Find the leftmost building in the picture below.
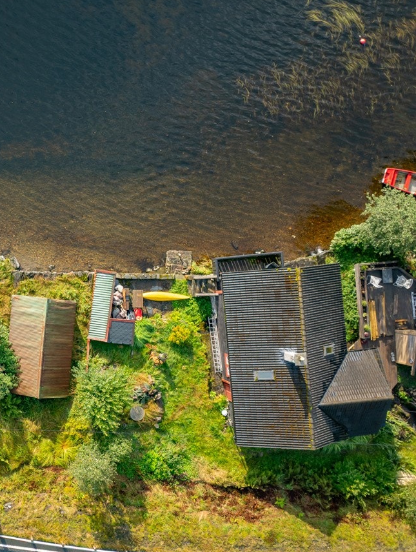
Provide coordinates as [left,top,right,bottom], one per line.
[11,296,76,398]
